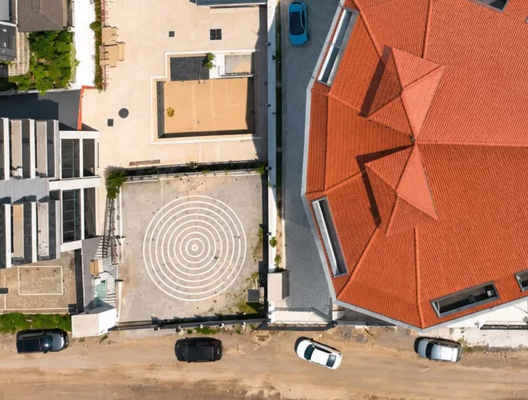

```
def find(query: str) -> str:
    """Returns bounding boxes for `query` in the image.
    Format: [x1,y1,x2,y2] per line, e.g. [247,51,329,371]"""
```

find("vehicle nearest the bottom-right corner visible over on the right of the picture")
[414,335,462,364]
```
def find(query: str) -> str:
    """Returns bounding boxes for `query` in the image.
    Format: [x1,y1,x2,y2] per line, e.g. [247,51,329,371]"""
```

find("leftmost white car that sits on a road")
[293,335,345,369]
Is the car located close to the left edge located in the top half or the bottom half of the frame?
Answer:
bottom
